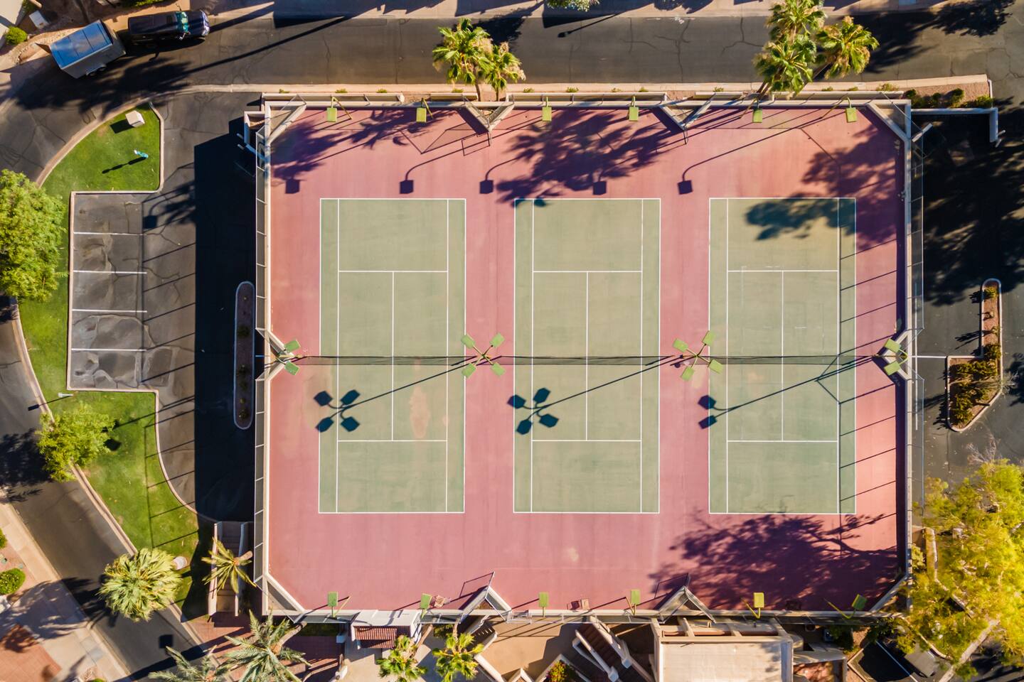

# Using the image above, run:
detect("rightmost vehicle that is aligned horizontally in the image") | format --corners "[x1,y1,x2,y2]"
[131,10,211,47]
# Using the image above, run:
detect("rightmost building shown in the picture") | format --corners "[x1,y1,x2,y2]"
[648,615,792,682]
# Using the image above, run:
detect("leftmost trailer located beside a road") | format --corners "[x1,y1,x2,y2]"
[41,19,129,76]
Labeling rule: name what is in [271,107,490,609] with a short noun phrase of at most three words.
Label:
tennis court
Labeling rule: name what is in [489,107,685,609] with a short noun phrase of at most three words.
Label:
tennis court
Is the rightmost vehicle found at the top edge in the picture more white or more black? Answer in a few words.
black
